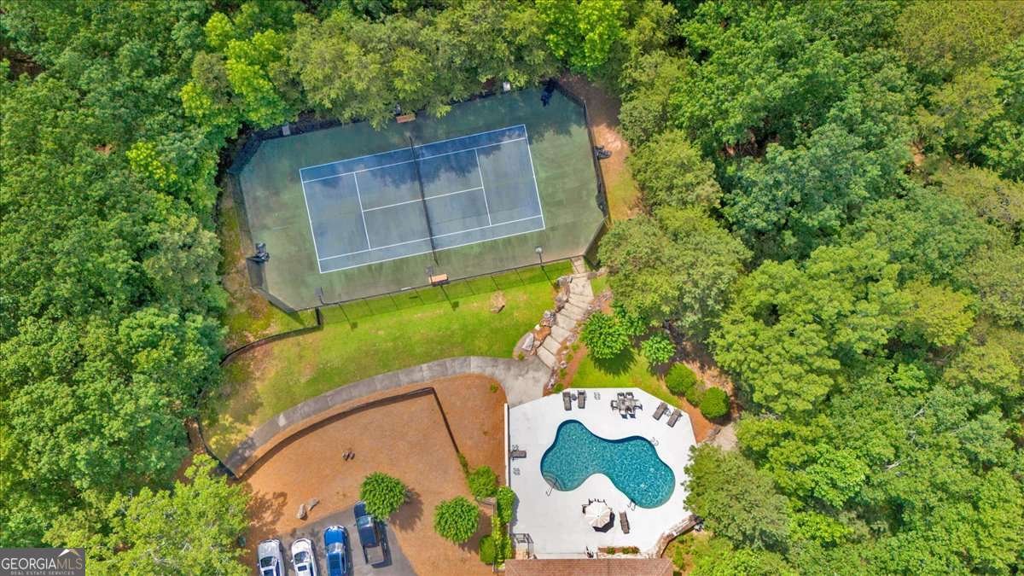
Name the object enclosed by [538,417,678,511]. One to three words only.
swimming pool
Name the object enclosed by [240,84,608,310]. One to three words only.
tennis court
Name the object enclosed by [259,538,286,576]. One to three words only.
car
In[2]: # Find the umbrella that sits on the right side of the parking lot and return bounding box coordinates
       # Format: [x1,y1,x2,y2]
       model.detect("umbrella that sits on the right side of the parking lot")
[585,500,611,526]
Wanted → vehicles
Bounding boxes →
[291,536,317,576]
[259,538,286,576]
[353,501,385,565]
[323,524,349,576]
